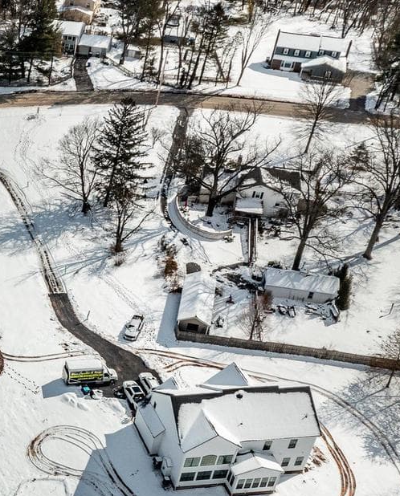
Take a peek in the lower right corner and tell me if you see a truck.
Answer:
No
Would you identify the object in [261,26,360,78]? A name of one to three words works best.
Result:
house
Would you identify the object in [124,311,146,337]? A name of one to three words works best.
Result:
truck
